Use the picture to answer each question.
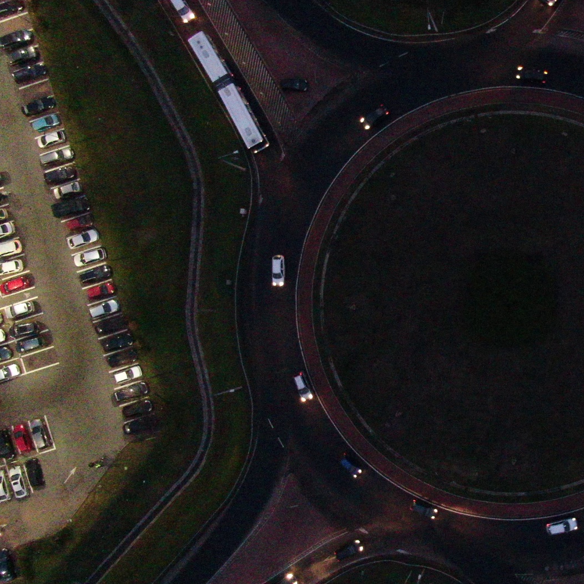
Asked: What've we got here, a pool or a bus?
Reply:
bus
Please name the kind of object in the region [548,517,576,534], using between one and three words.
car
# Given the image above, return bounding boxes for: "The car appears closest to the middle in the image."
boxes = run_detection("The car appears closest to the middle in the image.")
[271,255,286,286]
